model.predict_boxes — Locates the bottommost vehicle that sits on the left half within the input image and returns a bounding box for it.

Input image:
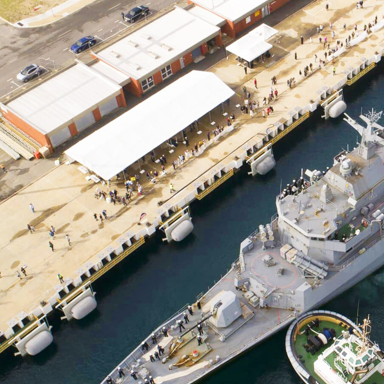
[13,63,40,82]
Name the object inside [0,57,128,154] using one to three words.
shed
